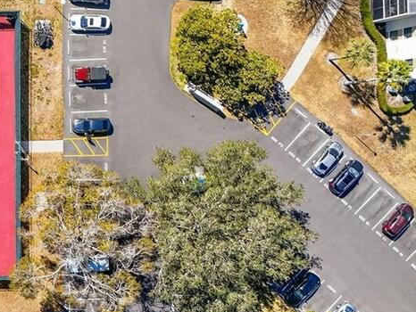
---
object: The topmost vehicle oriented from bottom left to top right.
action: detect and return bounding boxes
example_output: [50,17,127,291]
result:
[309,142,344,176]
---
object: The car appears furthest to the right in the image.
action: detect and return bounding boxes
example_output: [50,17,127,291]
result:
[379,204,415,238]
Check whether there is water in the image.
No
